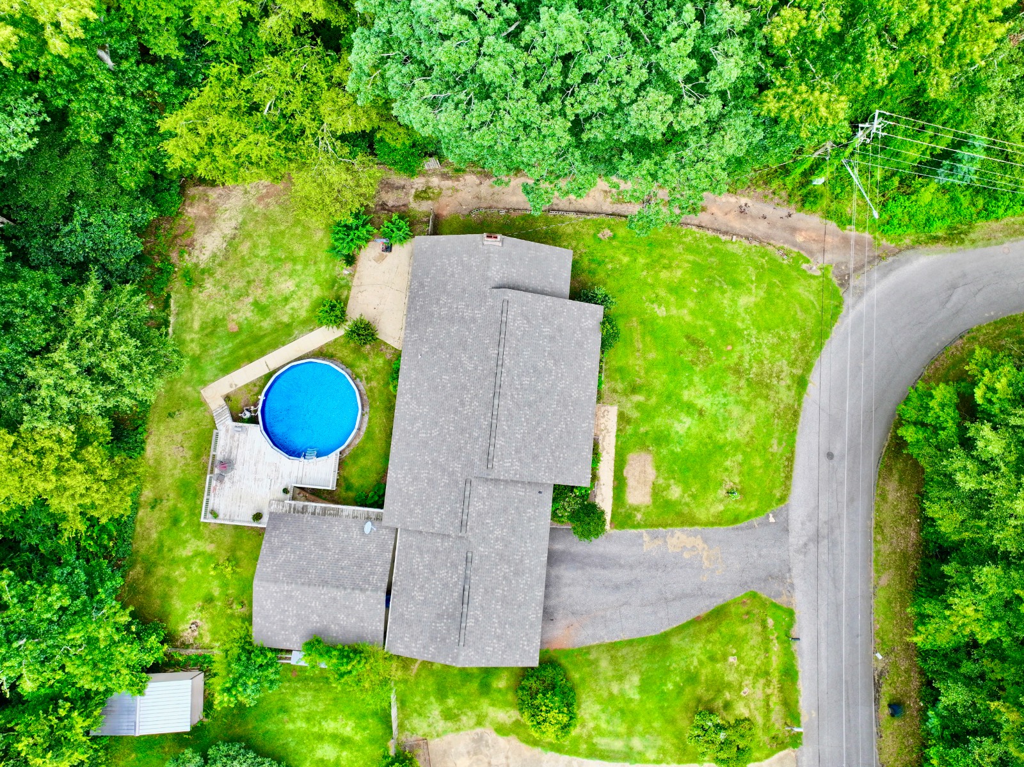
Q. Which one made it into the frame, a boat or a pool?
pool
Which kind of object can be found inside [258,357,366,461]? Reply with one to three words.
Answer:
swimming pool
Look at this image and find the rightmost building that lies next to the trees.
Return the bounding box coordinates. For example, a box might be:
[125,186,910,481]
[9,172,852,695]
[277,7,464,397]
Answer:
[383,233,604,667]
